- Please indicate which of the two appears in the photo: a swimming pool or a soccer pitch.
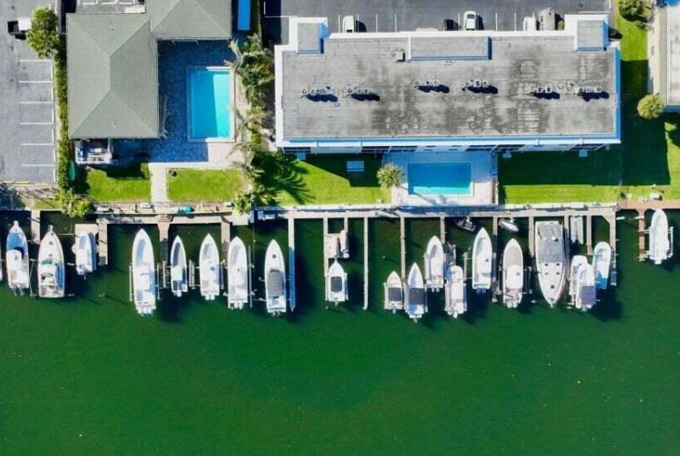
swimming pool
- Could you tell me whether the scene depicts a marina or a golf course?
marina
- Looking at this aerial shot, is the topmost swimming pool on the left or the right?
left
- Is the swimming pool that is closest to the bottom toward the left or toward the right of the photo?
right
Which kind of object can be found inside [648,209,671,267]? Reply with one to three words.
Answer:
boat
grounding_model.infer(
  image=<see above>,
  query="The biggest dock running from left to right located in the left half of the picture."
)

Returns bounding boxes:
[98,213,252,226]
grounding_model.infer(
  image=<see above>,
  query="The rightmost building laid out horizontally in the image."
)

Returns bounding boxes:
[275,14,620,153]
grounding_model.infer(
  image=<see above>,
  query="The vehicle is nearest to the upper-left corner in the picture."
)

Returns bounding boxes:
[7,18,34,38]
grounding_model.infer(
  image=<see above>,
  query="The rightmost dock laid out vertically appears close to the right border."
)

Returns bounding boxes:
[634,209,648,261]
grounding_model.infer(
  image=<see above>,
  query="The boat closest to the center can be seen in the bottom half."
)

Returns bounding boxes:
[328,253,344,306]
